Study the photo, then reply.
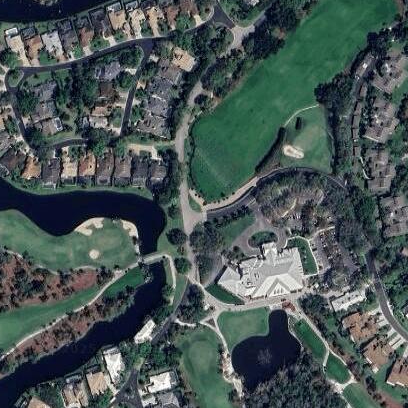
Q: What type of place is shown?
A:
residential area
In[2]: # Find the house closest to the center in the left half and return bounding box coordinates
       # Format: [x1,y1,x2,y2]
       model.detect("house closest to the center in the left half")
[150,162,169,185]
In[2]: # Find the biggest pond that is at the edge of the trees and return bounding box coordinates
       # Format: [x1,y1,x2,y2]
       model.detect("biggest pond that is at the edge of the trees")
[232,310,302,394]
